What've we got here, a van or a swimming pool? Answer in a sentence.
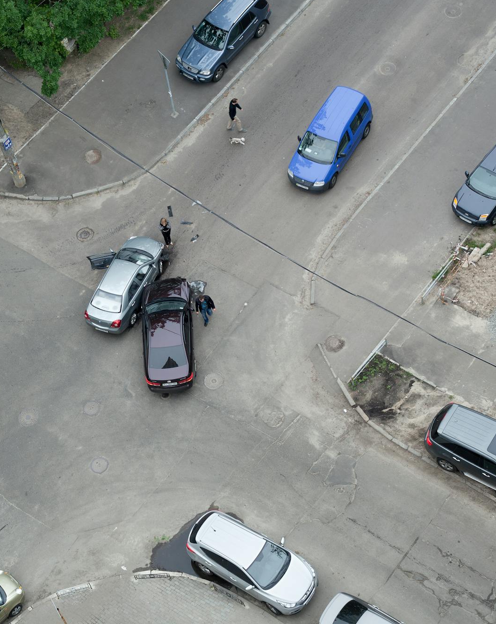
The one in the frame is a van.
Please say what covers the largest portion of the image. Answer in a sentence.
The scene is dominated by paved ground.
